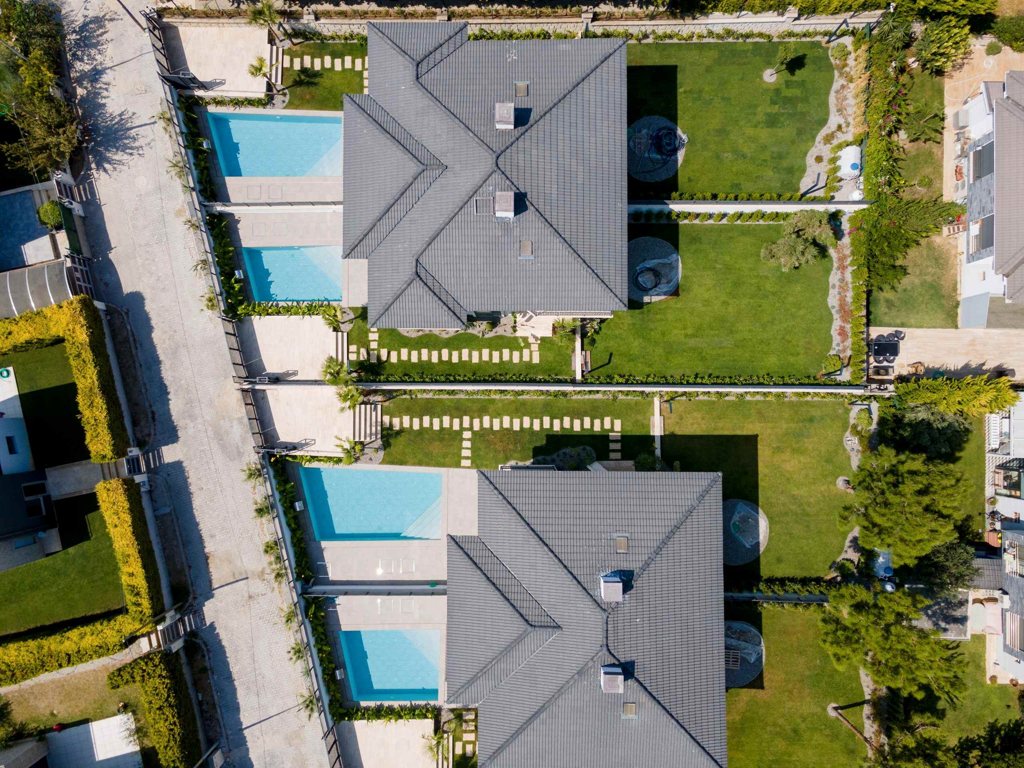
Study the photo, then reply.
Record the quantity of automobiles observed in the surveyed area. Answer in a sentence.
The count of automobiles is 0.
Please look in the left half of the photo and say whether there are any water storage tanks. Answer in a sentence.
No, looking in the left half of the photo, there is no water storage tank.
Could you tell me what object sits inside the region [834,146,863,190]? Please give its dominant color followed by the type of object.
white water tank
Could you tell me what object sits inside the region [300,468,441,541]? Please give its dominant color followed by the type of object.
blue swimming pool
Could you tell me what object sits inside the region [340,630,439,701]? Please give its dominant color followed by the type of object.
blue swimming pool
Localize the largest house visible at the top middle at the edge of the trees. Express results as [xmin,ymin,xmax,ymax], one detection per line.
[340,18,630,328]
